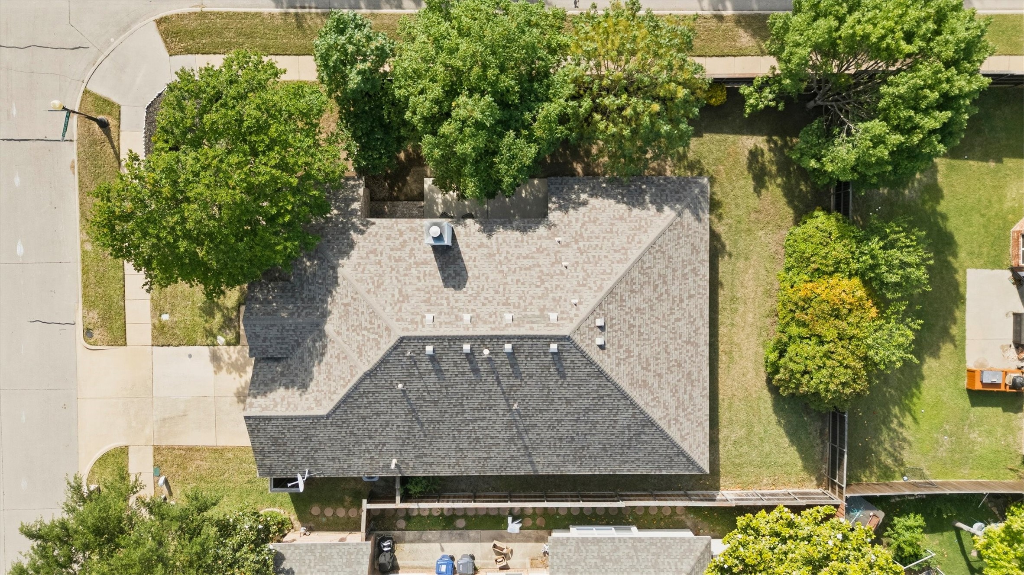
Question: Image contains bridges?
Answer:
No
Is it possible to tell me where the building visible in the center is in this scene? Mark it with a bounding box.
[241,176,709,476]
